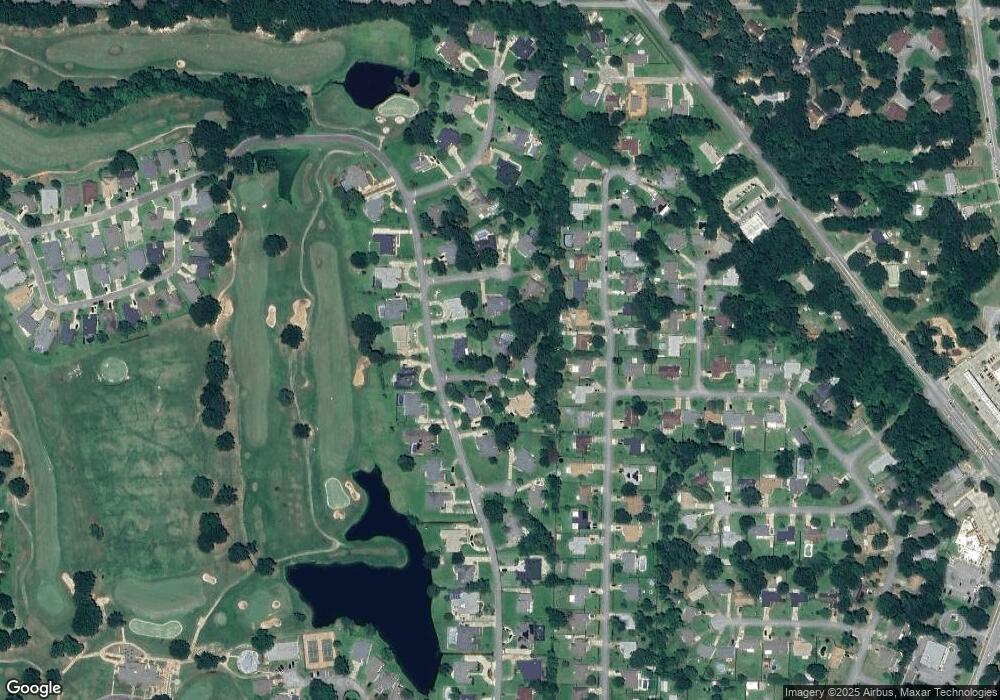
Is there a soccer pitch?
No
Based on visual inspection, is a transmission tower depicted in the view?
No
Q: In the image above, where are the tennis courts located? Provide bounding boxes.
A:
[320,638,333,662]
[307,638,319,664]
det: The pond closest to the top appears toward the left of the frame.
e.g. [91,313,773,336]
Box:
[345,62,404,109]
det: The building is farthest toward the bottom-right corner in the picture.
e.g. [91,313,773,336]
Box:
[919,640,948,672]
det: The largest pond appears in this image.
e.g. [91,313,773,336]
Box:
[286,463,441,694]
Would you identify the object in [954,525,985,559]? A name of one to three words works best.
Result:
building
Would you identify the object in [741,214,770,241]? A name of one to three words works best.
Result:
building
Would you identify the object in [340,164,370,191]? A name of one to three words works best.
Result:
house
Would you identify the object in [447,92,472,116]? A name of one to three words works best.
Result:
house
